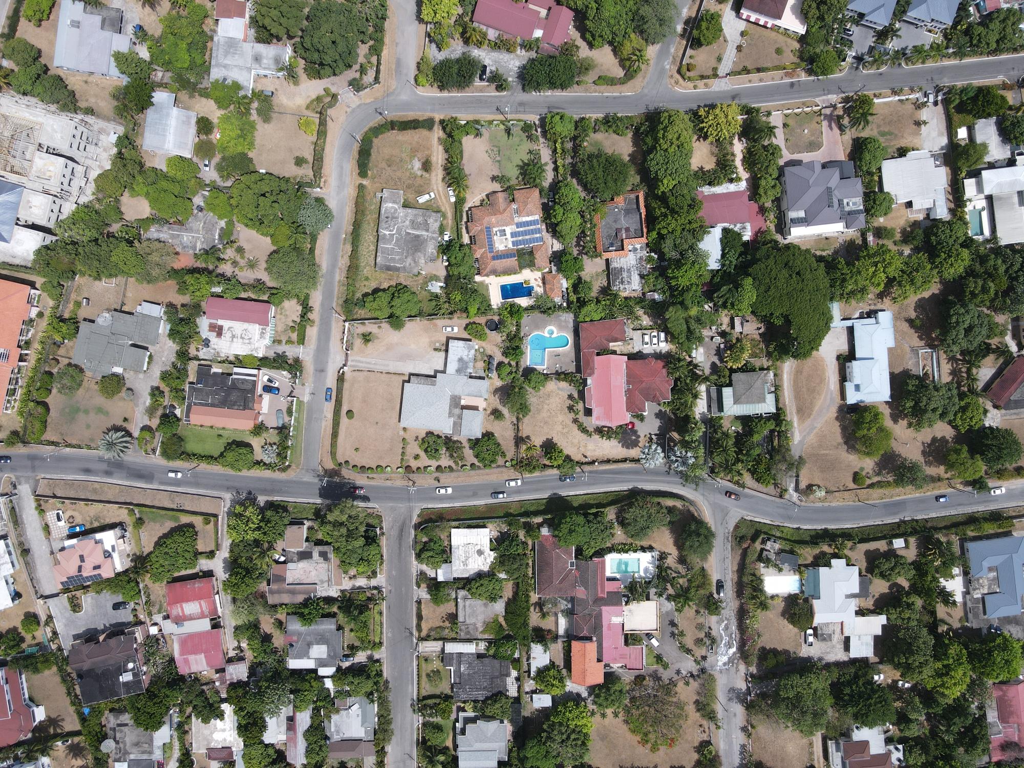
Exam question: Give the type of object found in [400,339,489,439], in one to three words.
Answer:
house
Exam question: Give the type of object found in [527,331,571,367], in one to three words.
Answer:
swimming pool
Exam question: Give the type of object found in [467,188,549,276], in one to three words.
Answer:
house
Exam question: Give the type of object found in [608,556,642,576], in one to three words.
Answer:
swimming pool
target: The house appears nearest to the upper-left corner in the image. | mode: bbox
[54,0,136,80]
